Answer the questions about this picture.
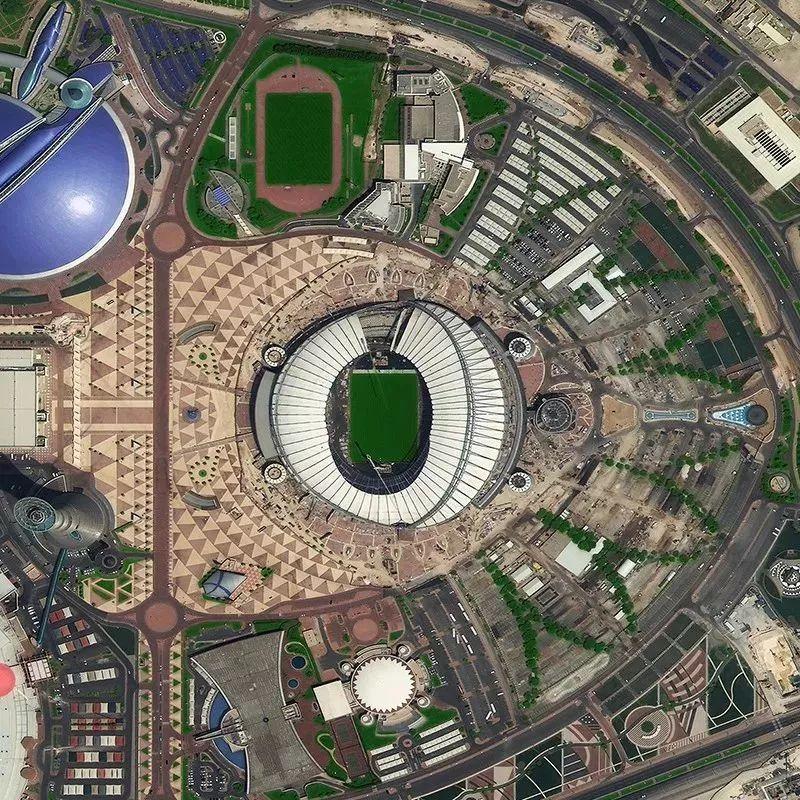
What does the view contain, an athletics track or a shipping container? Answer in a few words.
athletics track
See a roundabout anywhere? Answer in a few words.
Yes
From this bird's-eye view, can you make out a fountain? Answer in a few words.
Yes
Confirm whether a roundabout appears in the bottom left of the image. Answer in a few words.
Yes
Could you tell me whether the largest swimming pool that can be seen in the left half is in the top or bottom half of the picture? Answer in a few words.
bottom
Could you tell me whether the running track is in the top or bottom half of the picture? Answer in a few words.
top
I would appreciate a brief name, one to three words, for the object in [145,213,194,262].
roundabout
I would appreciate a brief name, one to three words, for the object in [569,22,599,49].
building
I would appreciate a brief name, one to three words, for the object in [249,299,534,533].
stadium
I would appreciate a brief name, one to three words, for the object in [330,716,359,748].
tennis court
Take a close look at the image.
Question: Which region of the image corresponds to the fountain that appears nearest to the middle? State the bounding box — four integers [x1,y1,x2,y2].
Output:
[184,405,202,423]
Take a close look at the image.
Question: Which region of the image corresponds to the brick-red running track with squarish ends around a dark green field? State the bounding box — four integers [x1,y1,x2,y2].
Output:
[256,64,342,215]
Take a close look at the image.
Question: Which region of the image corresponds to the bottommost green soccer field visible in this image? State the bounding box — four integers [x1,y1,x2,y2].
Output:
[350,372,417,463]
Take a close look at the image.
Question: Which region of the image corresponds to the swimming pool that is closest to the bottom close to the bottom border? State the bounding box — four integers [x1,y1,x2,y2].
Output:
[209,691,247,771]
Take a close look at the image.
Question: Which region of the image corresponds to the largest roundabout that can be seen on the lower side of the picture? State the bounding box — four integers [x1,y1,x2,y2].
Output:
[134,590,188,643]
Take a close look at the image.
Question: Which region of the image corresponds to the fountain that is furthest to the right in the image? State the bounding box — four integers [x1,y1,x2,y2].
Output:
[709,403,752,428]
